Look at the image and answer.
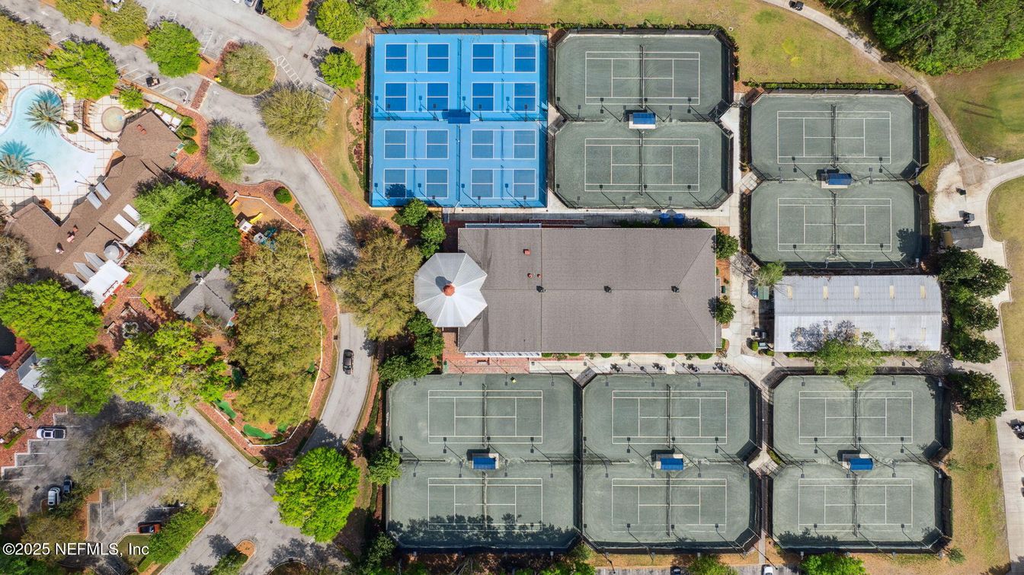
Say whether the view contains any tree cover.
Yes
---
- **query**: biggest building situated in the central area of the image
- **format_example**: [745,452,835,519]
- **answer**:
[414,222,723,358]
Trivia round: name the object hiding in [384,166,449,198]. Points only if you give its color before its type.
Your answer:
blue sports court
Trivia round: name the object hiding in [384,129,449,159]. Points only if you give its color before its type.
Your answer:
blue sports court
